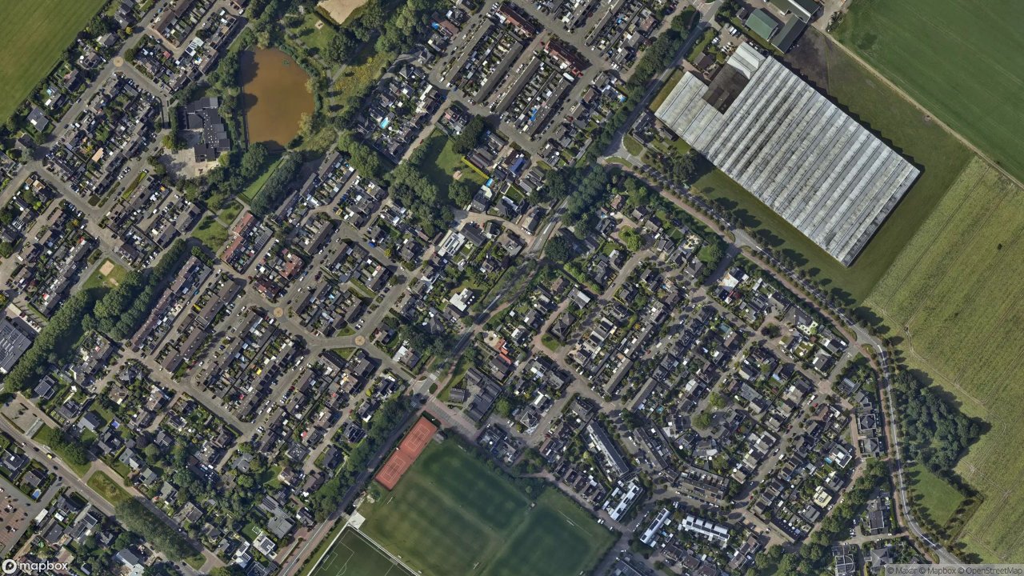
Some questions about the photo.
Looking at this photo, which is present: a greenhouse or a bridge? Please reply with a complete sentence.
The one in the frame is a greenhouse.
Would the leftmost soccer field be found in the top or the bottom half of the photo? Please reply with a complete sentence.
Seen from above, the leftmost soccer field lies in the bottom half of the view.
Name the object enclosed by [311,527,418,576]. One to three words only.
soccer field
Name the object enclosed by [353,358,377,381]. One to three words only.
house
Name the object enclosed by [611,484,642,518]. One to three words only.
building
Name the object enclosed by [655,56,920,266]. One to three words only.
greenhouse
